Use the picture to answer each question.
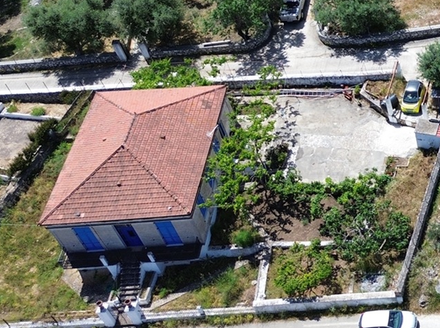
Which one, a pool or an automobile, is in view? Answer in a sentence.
The one in the frame is an automobile.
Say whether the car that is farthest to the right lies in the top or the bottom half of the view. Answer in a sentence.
The car that is farthest to the right is in the top half of the image.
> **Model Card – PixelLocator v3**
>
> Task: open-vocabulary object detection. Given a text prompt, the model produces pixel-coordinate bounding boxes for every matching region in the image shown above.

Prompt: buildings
[38,83,231,320]
[415,117,440,155]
